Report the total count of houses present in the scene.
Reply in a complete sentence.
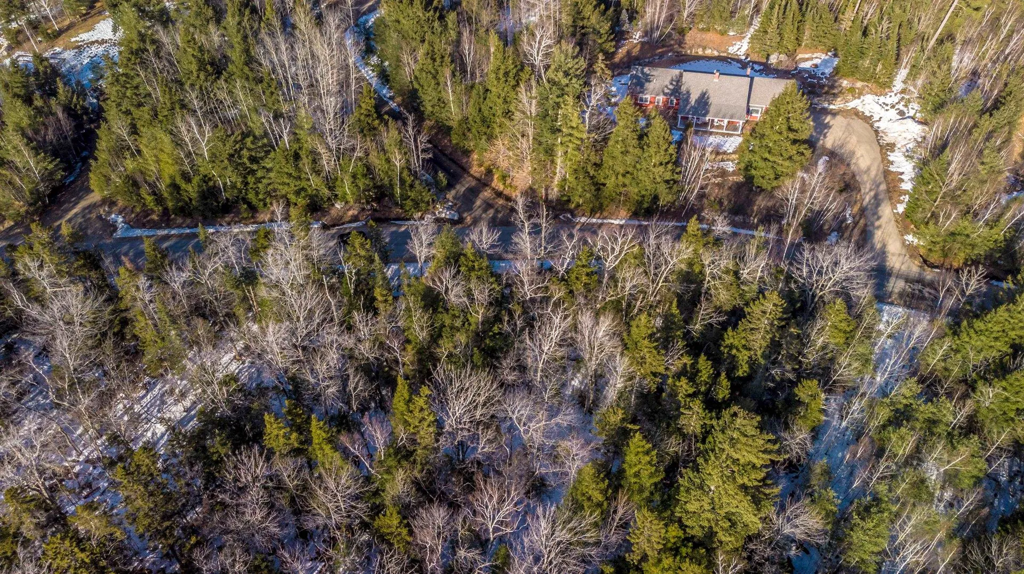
The photo contains exactly 1 house.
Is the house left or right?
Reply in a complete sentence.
The house is on the right side of the image.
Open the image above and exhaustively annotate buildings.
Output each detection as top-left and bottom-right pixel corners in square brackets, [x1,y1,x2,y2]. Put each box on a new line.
[628,61,795,135]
